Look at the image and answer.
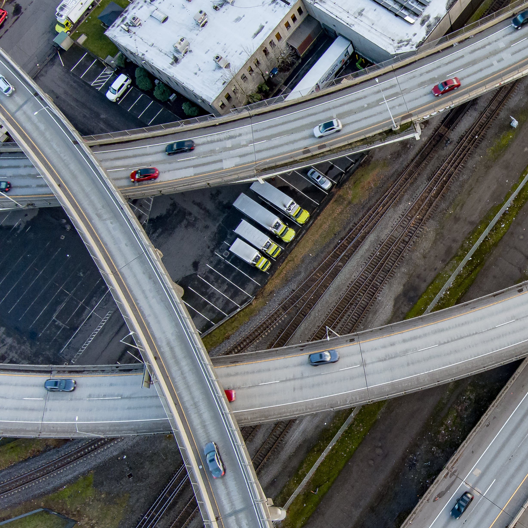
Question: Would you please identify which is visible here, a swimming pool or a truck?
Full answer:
The image shows a truck.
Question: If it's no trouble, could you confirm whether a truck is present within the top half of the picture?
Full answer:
Yes, a truck is visible within the top half of the picture.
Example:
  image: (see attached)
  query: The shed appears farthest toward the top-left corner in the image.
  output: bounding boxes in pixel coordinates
[54,31,81,57]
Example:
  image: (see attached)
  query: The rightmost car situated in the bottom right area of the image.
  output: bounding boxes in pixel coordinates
[449,488,476,522]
